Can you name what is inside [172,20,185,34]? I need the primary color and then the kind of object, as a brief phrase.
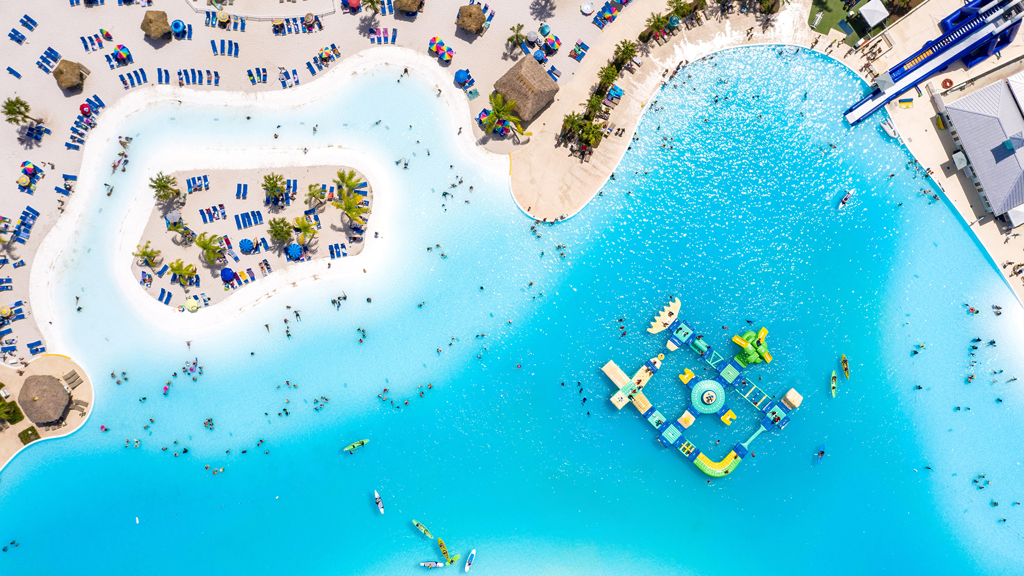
blue umbrella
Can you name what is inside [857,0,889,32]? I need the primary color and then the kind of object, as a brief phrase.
white tent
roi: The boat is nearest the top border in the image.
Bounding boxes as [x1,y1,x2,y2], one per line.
[880,117,899,139]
